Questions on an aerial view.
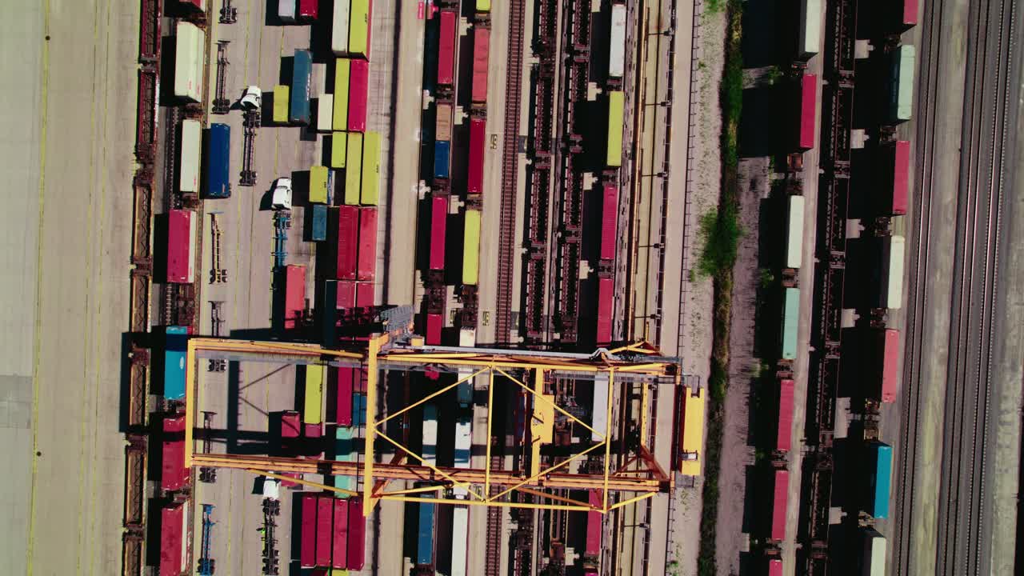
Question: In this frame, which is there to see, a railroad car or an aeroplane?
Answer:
railroad car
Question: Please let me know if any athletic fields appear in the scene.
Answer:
No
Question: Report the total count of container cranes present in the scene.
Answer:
1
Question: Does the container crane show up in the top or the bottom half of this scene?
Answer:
bottom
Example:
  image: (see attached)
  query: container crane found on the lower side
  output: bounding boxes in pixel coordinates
[182,302,705,514]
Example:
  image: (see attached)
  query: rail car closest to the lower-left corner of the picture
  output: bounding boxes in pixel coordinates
[122,528,145,576]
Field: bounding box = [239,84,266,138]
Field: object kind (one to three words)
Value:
truck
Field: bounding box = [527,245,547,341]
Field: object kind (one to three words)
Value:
rail car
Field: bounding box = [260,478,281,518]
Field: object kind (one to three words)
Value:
truck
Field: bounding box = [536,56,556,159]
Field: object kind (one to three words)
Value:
rail car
